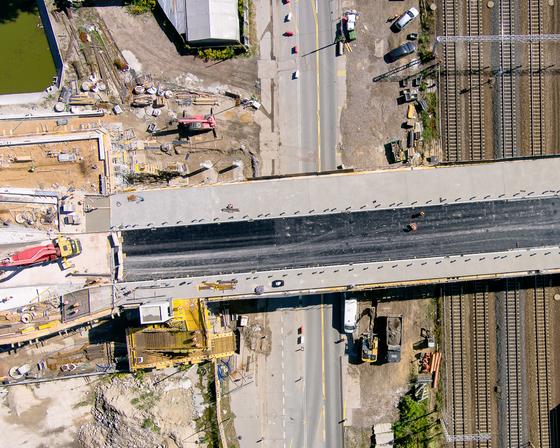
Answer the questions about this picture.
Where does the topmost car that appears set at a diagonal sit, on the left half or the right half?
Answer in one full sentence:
The topmost car that appears set at a diagonal is on the right side of the image.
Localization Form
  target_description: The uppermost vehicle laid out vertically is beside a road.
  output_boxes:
[341,13,358,45]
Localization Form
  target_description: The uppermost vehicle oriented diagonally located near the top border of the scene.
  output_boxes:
[390,8,420,34]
